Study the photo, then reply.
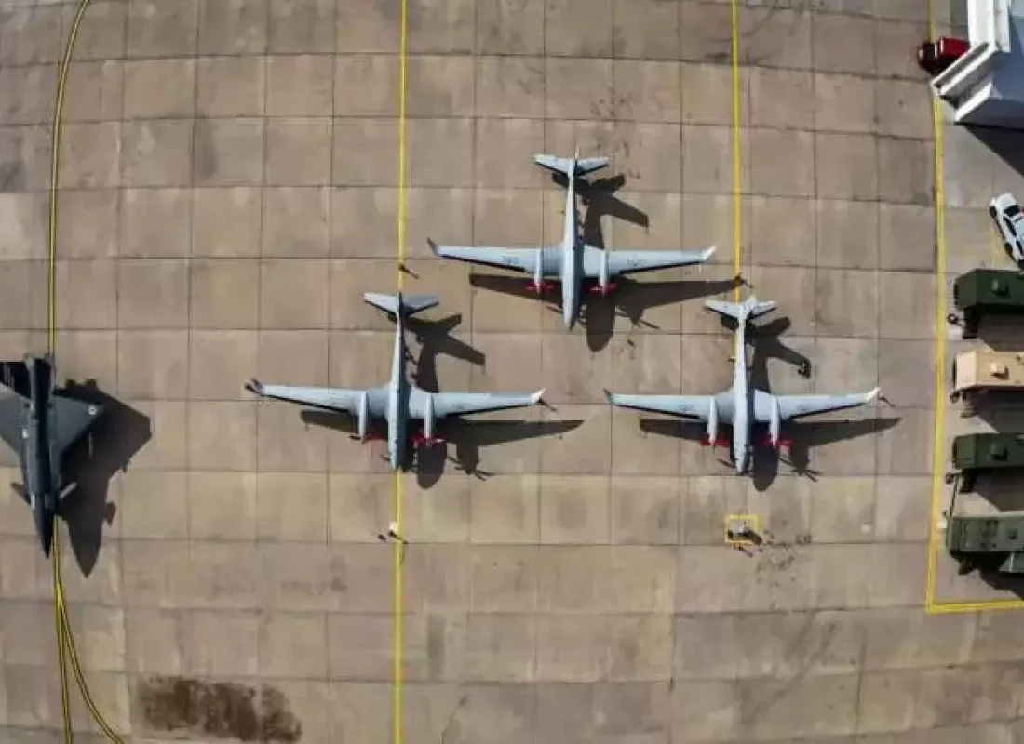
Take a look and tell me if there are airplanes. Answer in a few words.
Yes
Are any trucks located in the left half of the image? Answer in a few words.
No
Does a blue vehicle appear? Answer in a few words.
No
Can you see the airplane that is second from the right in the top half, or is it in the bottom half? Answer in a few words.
top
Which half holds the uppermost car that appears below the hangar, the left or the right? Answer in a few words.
right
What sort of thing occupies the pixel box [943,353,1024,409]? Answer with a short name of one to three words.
trailer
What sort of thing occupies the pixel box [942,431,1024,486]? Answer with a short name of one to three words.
trailer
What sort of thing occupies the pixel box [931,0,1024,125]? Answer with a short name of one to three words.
hangar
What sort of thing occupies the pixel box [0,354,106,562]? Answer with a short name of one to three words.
airplane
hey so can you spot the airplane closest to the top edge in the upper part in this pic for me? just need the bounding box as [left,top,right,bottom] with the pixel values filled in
[427,142,714,331]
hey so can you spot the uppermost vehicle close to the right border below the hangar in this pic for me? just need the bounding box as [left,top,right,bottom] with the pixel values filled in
[984,191,1024,261]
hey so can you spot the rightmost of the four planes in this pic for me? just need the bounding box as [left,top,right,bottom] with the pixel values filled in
[601,297,882,474]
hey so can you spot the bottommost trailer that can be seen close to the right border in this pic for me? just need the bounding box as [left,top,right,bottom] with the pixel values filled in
[939,510,1024,569]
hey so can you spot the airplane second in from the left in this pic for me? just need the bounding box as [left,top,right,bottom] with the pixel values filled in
[250,289,540,472]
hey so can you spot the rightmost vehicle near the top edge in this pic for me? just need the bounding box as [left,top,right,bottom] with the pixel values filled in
[916,36,972,73]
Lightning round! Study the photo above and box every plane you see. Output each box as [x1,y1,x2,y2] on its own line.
[427,142,714,331]
[601,297,882,474]
[250,289,540,472]
[0,354,106,562]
